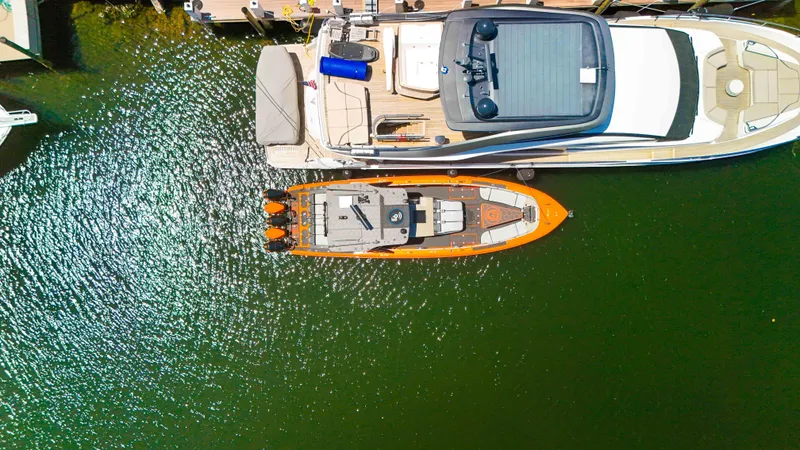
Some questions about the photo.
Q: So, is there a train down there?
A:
No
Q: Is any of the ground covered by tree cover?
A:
No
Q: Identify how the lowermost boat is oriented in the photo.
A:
from left to right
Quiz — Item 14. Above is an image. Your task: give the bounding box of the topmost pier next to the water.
[188,0,800,25]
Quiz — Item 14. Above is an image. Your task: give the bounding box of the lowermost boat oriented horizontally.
[264,176,575,259]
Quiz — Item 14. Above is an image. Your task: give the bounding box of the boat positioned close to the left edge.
[0,104,39,148]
